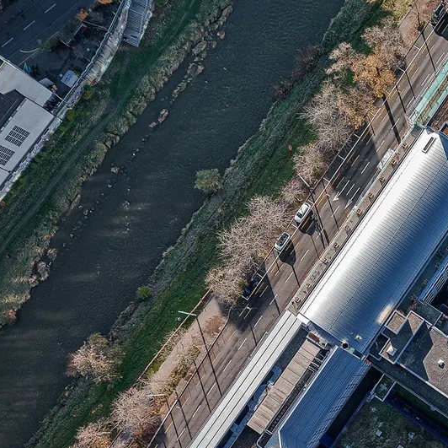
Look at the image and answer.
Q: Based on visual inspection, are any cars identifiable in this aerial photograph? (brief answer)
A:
Yes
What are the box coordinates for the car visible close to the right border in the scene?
[429,5,446,25]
